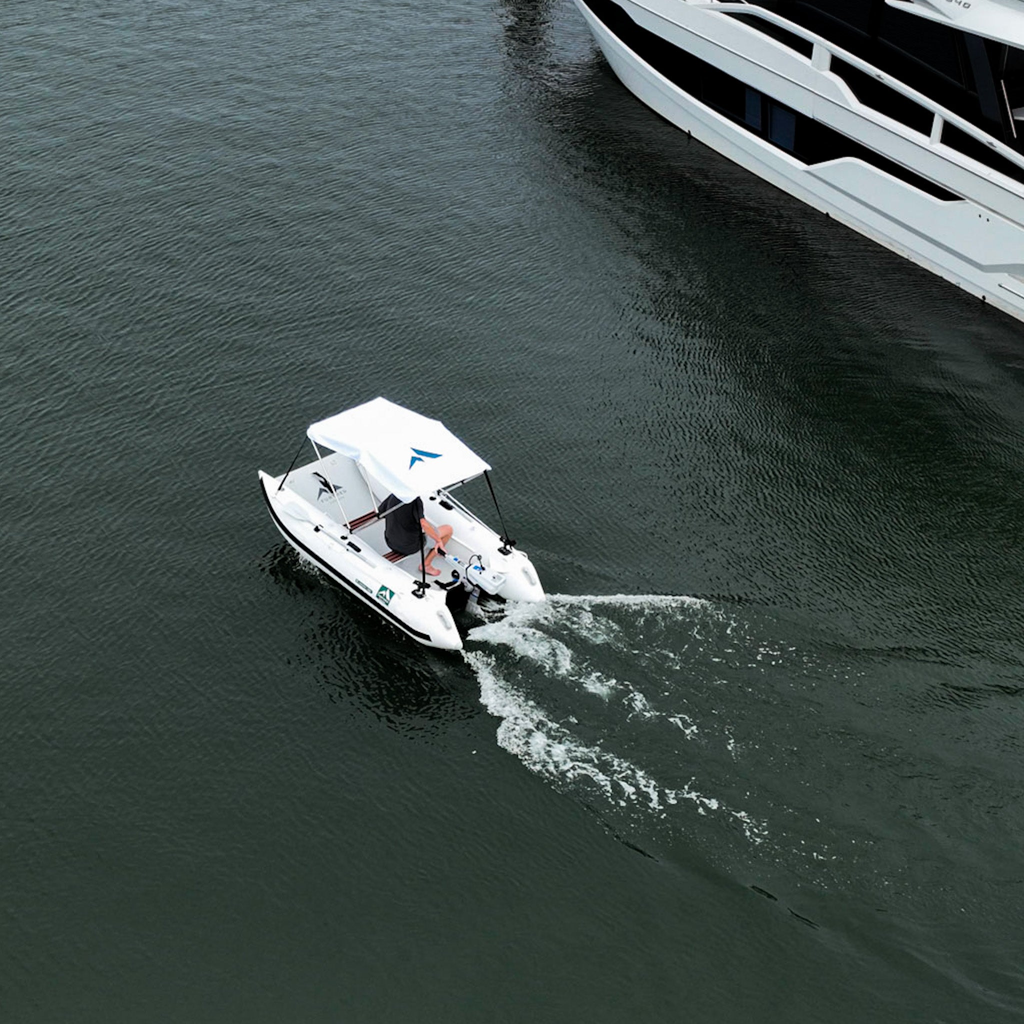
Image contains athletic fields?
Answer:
No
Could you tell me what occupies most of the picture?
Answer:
water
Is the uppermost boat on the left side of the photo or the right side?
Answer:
right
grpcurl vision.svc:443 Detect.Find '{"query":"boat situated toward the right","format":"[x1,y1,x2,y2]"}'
[574,0,1024,323]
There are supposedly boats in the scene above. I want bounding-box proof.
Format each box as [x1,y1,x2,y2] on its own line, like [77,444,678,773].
[574,0,1024,323]
[257,399,547,651]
